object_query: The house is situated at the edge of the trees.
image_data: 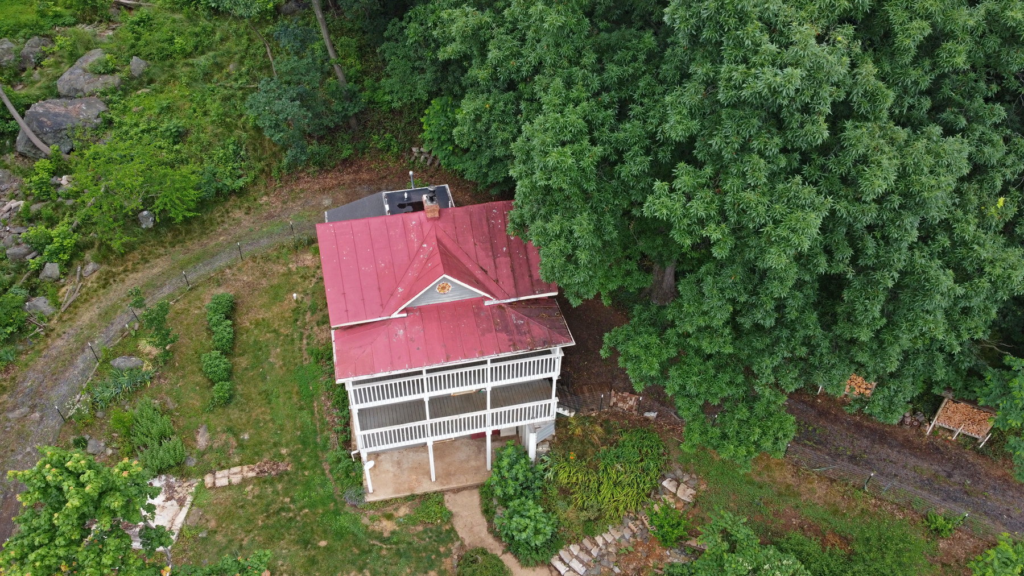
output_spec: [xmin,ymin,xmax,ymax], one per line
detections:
[316,159,578,492]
